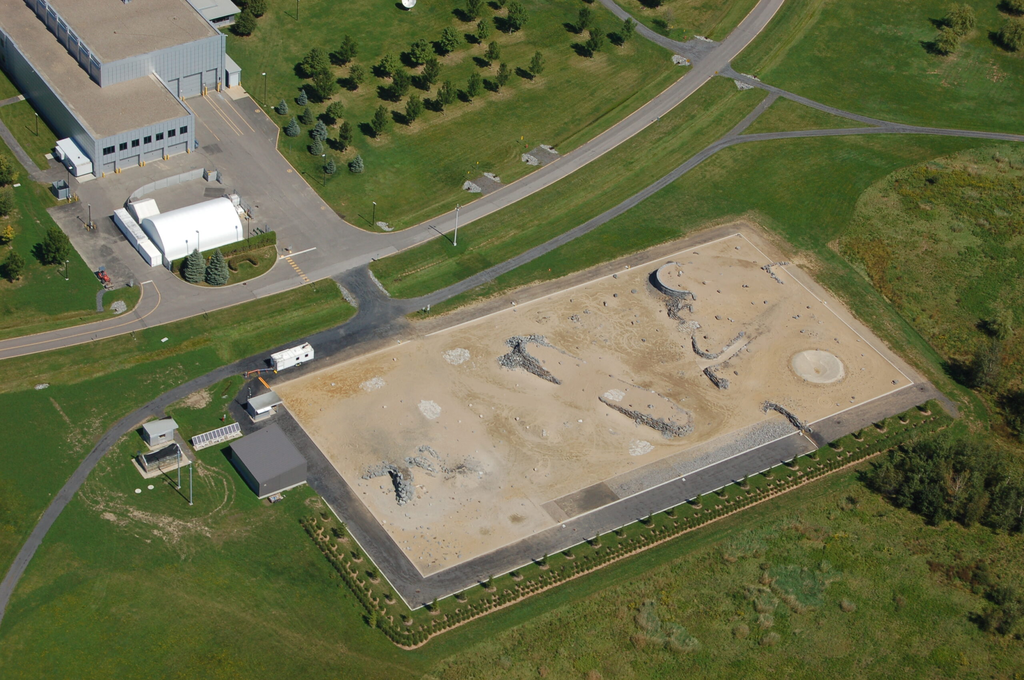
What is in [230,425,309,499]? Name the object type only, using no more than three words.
barn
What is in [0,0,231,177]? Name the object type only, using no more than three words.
building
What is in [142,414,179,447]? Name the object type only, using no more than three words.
shed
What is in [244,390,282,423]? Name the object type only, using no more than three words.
shed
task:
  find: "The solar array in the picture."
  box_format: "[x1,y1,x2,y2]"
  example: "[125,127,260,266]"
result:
[192,422,243,451]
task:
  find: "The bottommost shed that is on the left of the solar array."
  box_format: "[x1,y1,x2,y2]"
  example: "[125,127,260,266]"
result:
[131,439,189,479]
